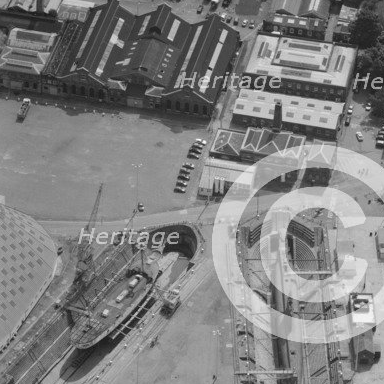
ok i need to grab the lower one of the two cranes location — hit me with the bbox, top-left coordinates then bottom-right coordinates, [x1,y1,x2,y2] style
[146,283,184,321]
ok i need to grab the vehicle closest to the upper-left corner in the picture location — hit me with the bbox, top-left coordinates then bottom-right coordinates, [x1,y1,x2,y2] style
[16,95,29,118]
